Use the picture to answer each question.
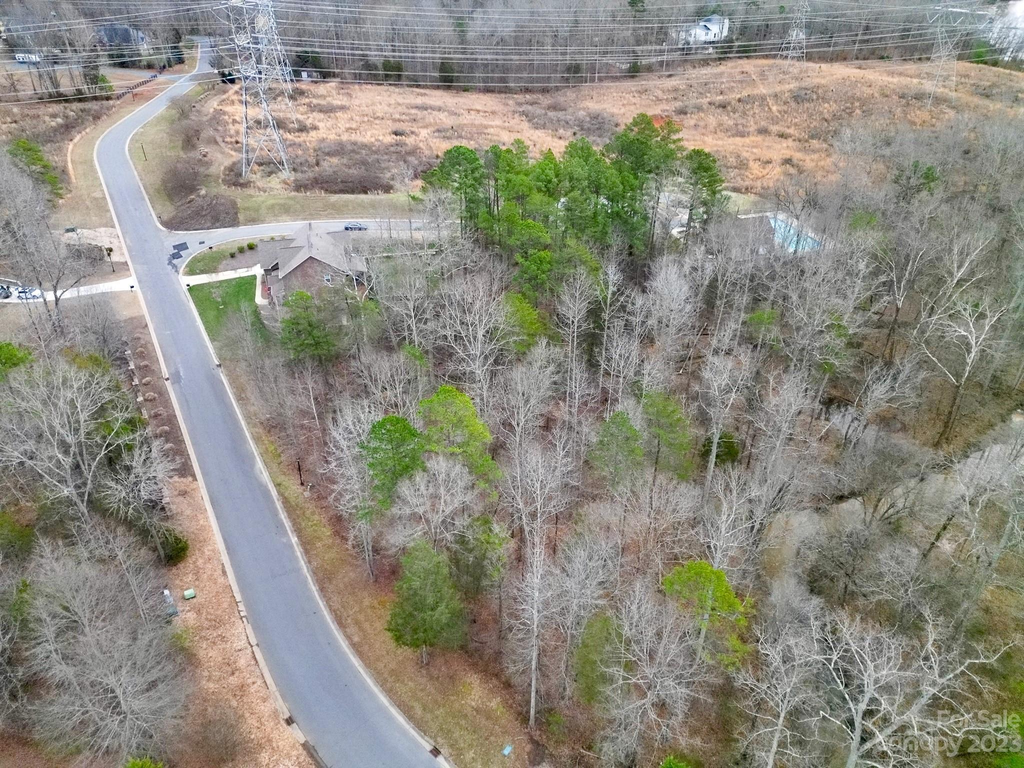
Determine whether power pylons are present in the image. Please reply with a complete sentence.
Yes, the image includes a power pylon.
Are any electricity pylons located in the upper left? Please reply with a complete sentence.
Yes, the scene does show an electricity pylon in the upper left.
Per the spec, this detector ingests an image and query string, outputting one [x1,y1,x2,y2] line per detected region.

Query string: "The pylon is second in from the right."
[782,0,815,72]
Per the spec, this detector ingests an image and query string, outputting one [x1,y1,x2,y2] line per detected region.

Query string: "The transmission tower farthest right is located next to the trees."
[924,0,983,98]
